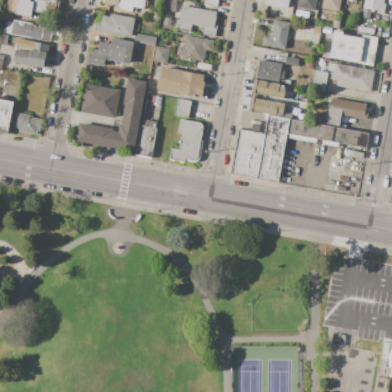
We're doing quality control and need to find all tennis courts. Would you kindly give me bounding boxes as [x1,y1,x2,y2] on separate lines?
[265,346,298,392]
[233,346,265,392]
